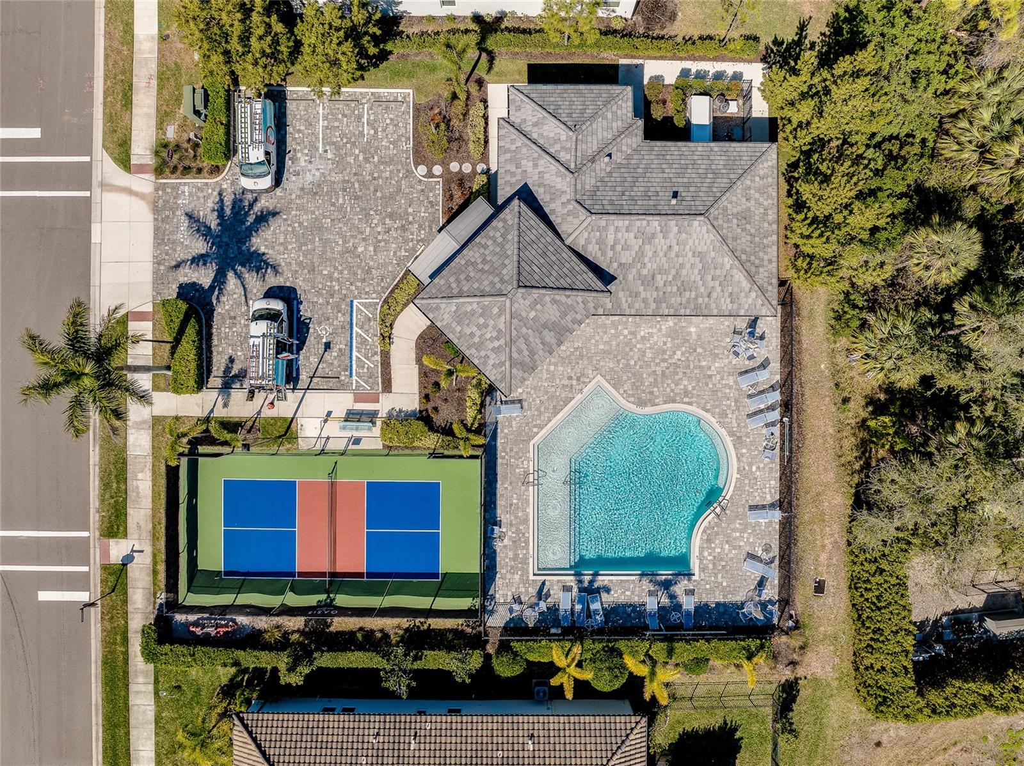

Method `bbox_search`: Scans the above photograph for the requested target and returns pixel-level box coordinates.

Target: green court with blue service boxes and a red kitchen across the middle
[178,451,483,606]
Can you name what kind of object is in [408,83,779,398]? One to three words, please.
building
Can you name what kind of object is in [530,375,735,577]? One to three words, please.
swimming pool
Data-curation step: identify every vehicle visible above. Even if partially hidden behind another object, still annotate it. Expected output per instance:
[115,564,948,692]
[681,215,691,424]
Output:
[236,95,280,195]
[246,296,304,399]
